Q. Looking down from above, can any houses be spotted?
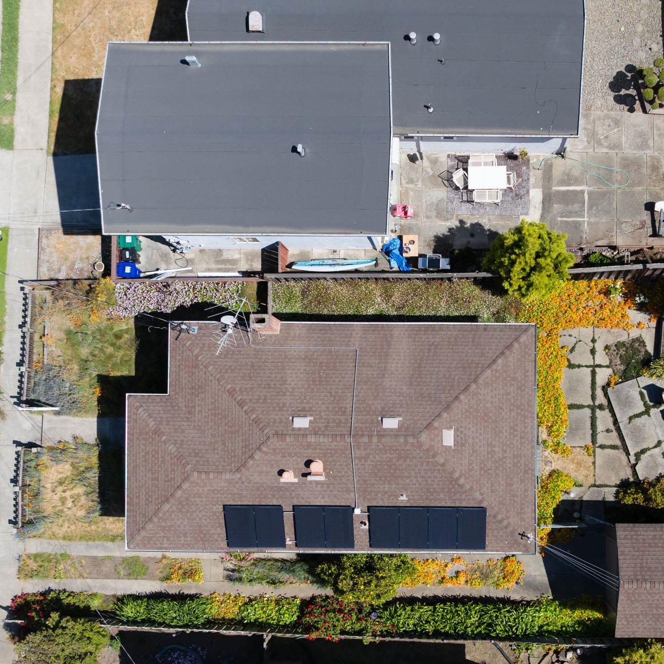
Yes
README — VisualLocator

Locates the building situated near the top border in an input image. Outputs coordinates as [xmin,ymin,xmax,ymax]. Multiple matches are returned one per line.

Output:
[91,0,589,251]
